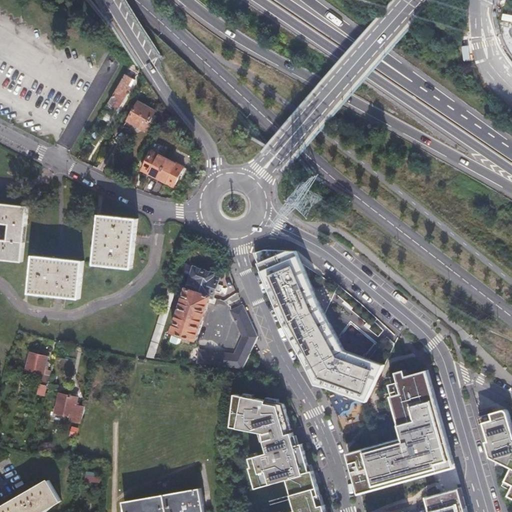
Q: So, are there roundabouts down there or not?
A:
Yes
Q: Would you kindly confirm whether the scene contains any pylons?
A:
Yes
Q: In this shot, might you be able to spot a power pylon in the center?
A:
Yes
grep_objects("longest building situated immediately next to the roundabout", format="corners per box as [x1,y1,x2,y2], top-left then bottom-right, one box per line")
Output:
[252,250,388,402]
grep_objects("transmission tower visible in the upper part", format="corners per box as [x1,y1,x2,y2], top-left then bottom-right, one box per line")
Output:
[276,180,327,230]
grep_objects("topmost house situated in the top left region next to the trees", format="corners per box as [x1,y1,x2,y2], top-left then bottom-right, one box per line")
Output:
[108,65,140,109]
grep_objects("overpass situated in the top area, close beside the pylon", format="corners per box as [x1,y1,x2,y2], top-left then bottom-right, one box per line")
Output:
[258,0,418,183]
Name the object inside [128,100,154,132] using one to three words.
house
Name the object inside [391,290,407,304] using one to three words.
vehicle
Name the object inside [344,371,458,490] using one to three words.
building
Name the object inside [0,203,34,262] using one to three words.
building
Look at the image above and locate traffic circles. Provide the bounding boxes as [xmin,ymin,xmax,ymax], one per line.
[196,168,272,244]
